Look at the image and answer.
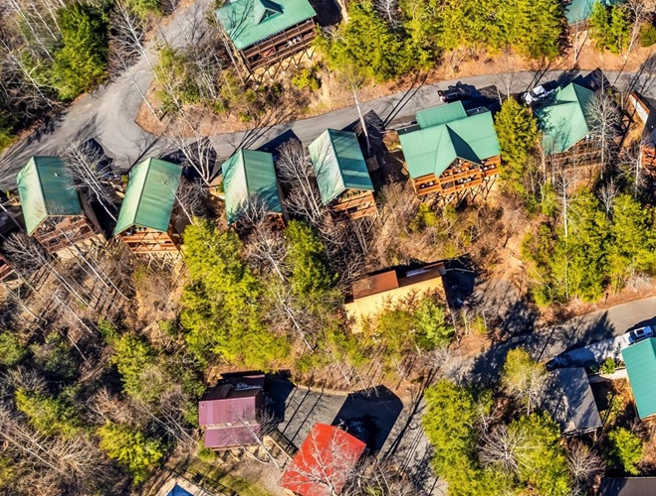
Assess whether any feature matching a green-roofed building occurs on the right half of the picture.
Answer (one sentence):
Yes, I can see a green-roofed building on the right half of the picture.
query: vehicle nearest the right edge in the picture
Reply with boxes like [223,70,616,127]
[621,318,656,343]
